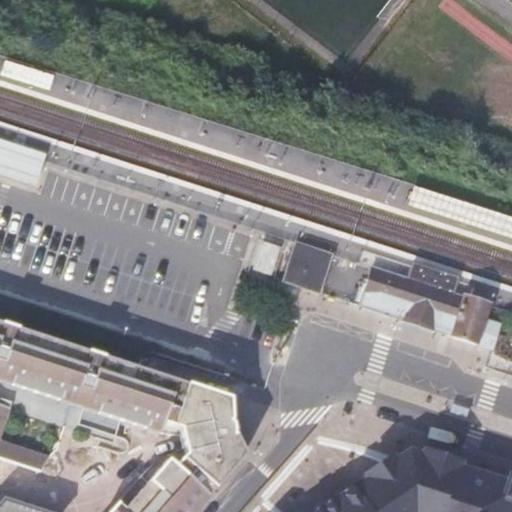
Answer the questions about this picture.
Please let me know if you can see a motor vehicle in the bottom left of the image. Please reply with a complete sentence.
Yes, the scene does show a motor vehicle in the bottom left of the image.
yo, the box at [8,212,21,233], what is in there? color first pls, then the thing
white vehicle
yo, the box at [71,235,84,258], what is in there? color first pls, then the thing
gray vehicle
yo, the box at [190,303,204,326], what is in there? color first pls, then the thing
white car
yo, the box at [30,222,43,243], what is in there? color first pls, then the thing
white vehicle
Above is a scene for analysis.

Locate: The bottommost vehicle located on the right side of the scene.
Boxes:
[426,426,457,444]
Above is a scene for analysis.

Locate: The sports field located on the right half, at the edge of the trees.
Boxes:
[248,0,410,66]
